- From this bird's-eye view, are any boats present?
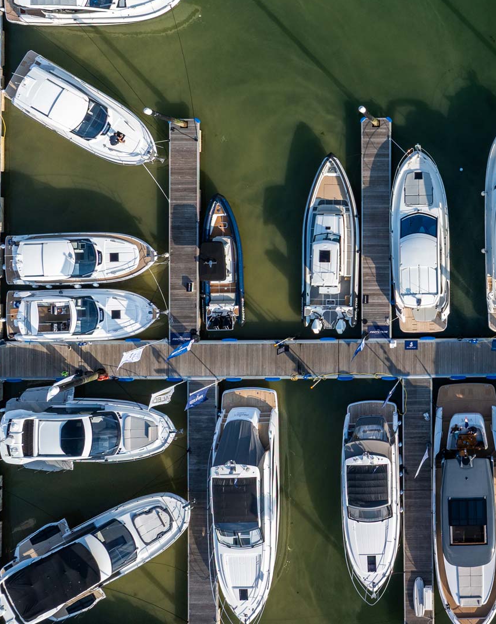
Yes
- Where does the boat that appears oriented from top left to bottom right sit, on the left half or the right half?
left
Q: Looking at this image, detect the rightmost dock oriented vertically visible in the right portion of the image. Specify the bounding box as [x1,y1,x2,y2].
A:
[404,377,435,624]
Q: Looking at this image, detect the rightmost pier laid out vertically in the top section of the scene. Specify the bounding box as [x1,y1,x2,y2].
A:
[360,115,394,339]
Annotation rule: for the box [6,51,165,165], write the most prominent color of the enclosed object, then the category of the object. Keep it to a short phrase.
white boat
